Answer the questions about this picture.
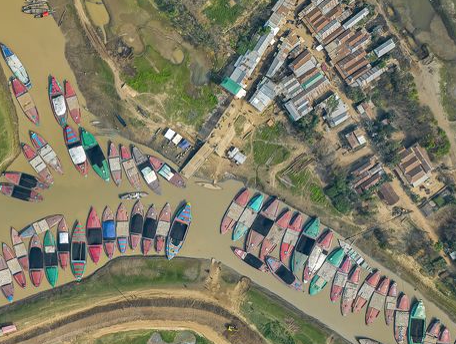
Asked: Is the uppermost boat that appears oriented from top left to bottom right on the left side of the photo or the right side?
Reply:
left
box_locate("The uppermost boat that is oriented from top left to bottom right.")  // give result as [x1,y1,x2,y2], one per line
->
[0,43,32,88]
